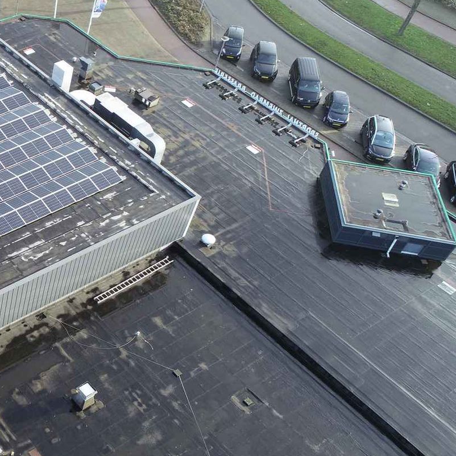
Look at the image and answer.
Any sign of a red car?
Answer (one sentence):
No, there appears to be no red car in this shot.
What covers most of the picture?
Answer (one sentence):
The largest share of the image is taken up by buildings.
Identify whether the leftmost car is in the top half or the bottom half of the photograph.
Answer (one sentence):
You can find the leftmost car in the top half.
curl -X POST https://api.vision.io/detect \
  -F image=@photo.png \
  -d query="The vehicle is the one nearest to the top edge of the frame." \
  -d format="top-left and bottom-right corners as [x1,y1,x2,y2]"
[218,20,246,60]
